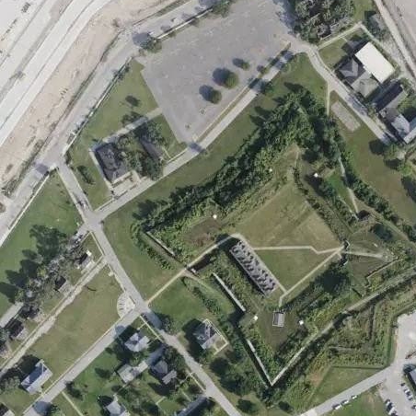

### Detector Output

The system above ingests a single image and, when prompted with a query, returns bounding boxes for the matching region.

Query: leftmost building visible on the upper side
[94,143,128,181]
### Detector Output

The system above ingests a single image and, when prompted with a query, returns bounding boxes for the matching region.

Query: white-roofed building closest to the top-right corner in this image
[353,41,394,83]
